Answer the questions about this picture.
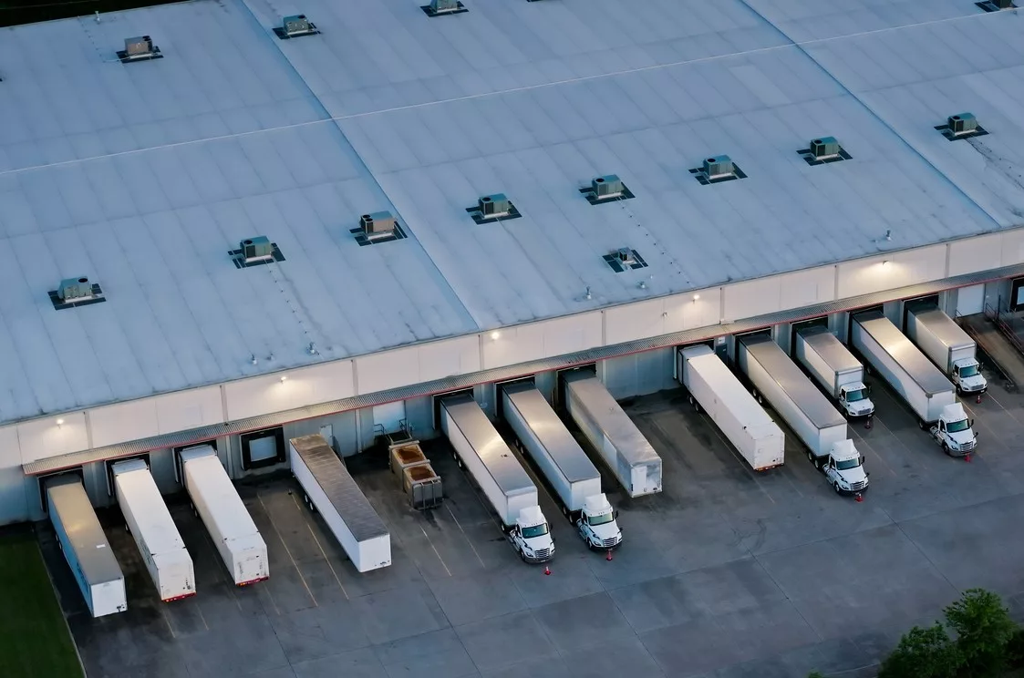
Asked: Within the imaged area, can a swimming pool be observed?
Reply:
No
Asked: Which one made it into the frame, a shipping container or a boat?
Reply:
shipping container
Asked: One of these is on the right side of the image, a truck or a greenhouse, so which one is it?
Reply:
truck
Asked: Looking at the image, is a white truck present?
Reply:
Yes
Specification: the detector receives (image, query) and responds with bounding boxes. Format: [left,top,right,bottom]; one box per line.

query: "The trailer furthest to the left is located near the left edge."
[47,472,127,617]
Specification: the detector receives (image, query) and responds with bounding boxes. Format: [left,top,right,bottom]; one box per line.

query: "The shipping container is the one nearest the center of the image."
[388,439,443,511]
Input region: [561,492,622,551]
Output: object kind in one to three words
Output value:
truck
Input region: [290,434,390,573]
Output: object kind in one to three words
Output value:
trailer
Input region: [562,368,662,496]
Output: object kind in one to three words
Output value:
trailer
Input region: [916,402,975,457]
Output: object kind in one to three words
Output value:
truck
